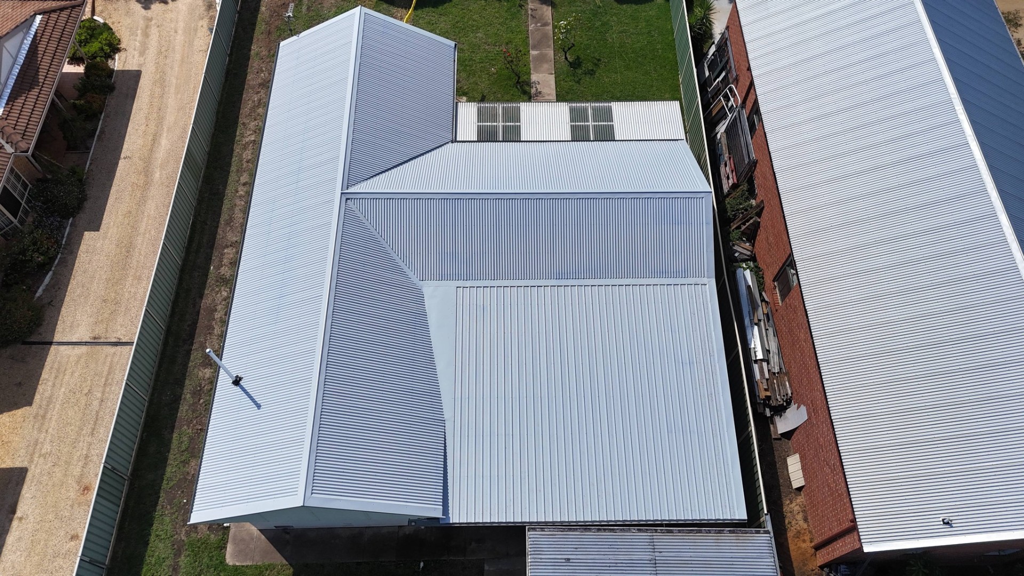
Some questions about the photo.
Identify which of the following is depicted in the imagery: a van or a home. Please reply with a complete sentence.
Looking from above, you can make out a home.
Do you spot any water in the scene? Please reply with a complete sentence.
No, water can't be seen anywhere here.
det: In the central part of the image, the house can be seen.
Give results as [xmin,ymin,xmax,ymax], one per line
[184,5,746,530]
